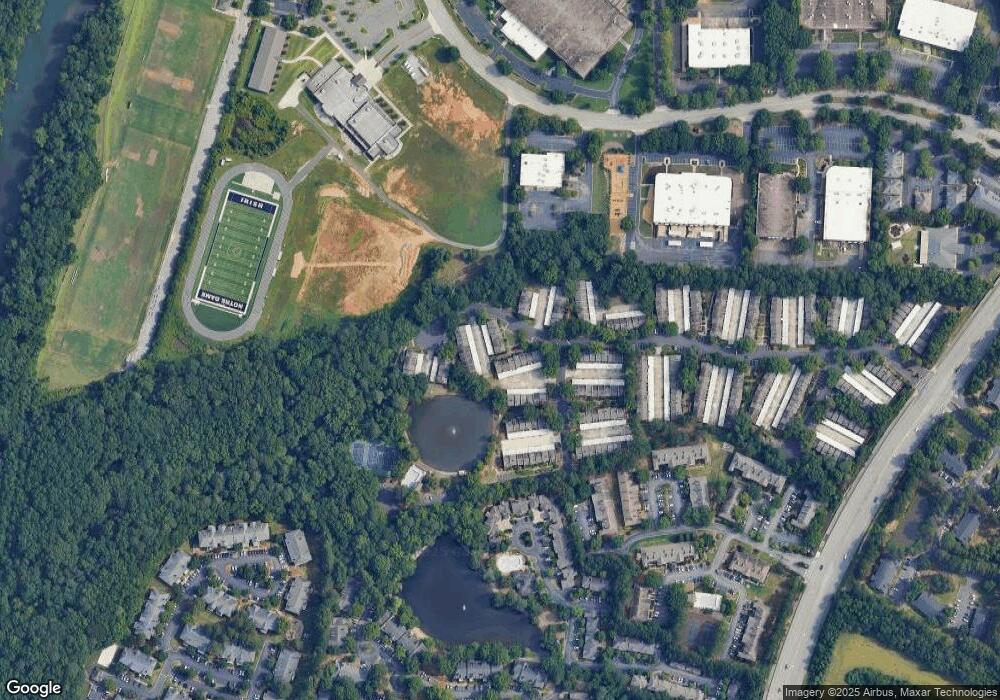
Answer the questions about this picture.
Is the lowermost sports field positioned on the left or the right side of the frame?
left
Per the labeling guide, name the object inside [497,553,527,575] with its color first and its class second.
white swimming pool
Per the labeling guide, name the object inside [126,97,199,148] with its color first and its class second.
green sports field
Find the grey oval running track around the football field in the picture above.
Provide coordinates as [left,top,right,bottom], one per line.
[184,163,290,341]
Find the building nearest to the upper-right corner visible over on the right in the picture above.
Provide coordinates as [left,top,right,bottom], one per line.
[899,0,979,51]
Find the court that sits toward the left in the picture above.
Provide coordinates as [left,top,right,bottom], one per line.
[353,440,401,471]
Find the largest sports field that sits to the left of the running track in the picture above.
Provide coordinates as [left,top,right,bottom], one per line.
[82,131,188,268]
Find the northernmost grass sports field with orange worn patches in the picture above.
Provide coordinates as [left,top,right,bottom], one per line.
[138,6,229,111]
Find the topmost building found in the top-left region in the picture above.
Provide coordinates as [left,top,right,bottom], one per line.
[247,25,286,93]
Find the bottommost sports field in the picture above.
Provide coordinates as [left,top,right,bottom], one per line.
[54,262,155,350]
